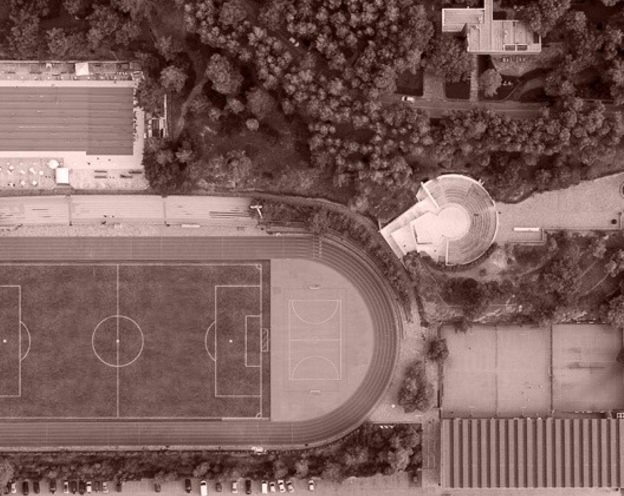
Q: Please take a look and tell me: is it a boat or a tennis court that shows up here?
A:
tennis court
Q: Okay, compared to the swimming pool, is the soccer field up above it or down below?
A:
below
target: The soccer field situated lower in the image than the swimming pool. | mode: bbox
[0,259,270,423]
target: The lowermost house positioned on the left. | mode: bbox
[149,118,168,140]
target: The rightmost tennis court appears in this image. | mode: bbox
[553,325,624,413]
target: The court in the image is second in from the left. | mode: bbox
[443,325,497,417]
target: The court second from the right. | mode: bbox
[497,325,551,417]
